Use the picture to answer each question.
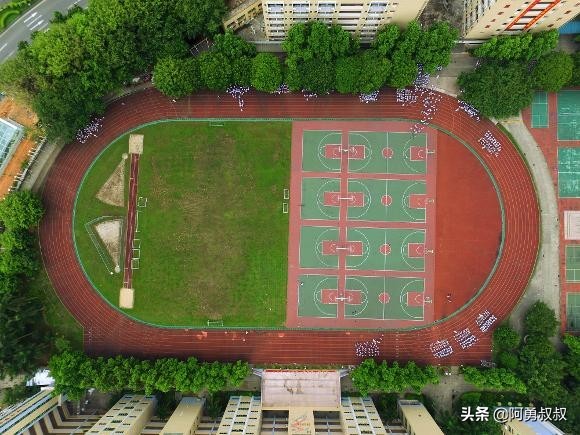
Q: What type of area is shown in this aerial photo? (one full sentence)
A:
The area seen from above is a sports ground.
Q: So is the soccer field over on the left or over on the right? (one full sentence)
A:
The soccer field appears in the left half of the scene.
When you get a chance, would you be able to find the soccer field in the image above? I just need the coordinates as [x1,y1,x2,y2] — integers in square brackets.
[75,122,290,328]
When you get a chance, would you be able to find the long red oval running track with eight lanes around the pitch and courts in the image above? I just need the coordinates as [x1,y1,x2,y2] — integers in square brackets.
[37,84,540,371]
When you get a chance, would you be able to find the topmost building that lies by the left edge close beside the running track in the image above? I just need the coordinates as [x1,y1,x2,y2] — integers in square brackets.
[0,115,32,186]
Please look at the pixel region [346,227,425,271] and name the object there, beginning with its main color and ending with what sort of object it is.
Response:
green basketball court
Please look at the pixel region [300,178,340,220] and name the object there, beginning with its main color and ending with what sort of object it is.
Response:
green basketball court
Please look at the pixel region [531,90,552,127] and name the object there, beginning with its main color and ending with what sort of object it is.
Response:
green sports court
